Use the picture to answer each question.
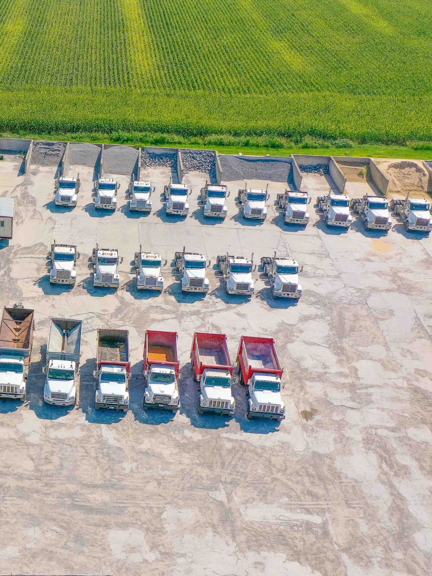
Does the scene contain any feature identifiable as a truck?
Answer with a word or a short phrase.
Yes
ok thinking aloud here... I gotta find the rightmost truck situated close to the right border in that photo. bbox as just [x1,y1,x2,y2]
[389,193,432,232]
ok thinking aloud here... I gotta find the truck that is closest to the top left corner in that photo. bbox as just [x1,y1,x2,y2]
[55,169,80,205]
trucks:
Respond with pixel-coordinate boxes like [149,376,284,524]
[197,179,229,216]
[274,186,312,223]
[389,193,432,232]
[261,252,305,298]
[95,327,134,410]
[42,318,81,405]
[0,304,35,399]
[235,333,288,419]
[134,244,168,290]
[162,178,192,214]
[177,246,212,293]
[351,190,393,230]
[94,172,120,209]
[141,328,184,411]
[217,248,257,295]
[55,169,80,205]
[127,175,155,211]
[313,188,354,227]
[235,181,269,218]
[190,330,239,414]
[91,243,123,287]
[49,239,79,283]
